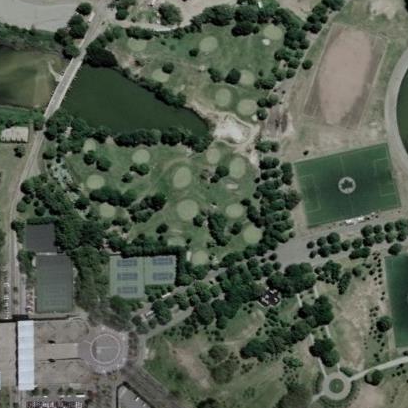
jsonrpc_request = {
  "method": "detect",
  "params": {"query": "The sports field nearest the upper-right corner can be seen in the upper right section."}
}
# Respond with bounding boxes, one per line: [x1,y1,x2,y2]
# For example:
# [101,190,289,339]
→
[303,23,388,130]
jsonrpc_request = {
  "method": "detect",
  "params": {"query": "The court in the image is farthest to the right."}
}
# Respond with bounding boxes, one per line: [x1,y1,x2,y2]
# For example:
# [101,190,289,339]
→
[143,256,176,284]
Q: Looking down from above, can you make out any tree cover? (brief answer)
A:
Yes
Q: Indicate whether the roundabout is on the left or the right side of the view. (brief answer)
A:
left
